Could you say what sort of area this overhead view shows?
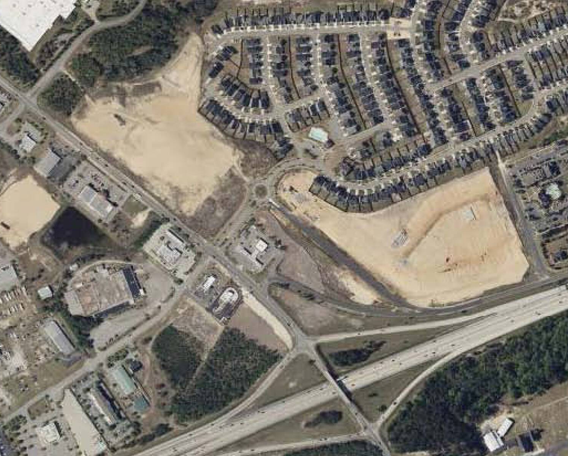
residential area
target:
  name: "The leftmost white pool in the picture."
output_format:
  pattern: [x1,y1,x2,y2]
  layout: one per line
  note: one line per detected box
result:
[309,127,328,142]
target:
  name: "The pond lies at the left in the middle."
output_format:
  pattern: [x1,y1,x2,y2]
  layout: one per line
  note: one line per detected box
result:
[41,207,108,248]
